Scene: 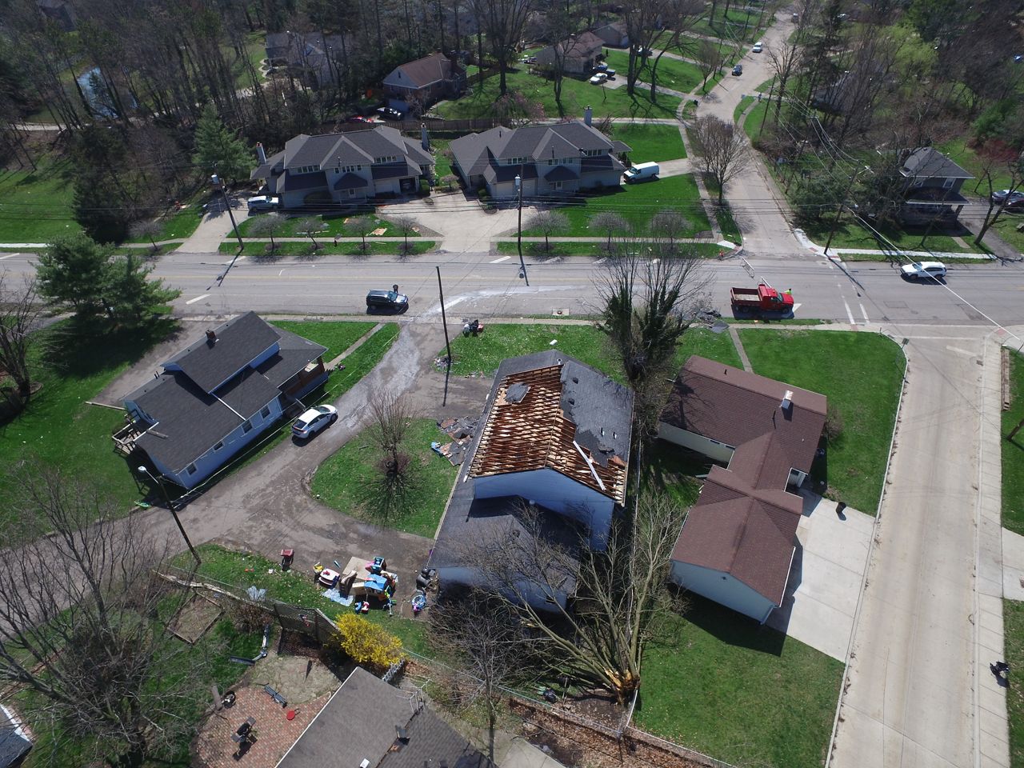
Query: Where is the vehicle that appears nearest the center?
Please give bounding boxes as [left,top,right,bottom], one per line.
[364,286,412,310]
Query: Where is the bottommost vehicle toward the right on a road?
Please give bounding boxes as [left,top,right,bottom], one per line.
[727,287,797,318]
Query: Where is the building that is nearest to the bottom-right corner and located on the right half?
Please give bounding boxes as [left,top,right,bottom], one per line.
[659,356,827,622]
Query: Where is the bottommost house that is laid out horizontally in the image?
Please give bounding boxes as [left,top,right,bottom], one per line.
[273,668,495,768]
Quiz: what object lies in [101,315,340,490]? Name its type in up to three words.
house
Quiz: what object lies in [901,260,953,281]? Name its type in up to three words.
car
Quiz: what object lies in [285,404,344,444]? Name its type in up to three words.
car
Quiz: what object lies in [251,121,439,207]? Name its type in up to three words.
house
